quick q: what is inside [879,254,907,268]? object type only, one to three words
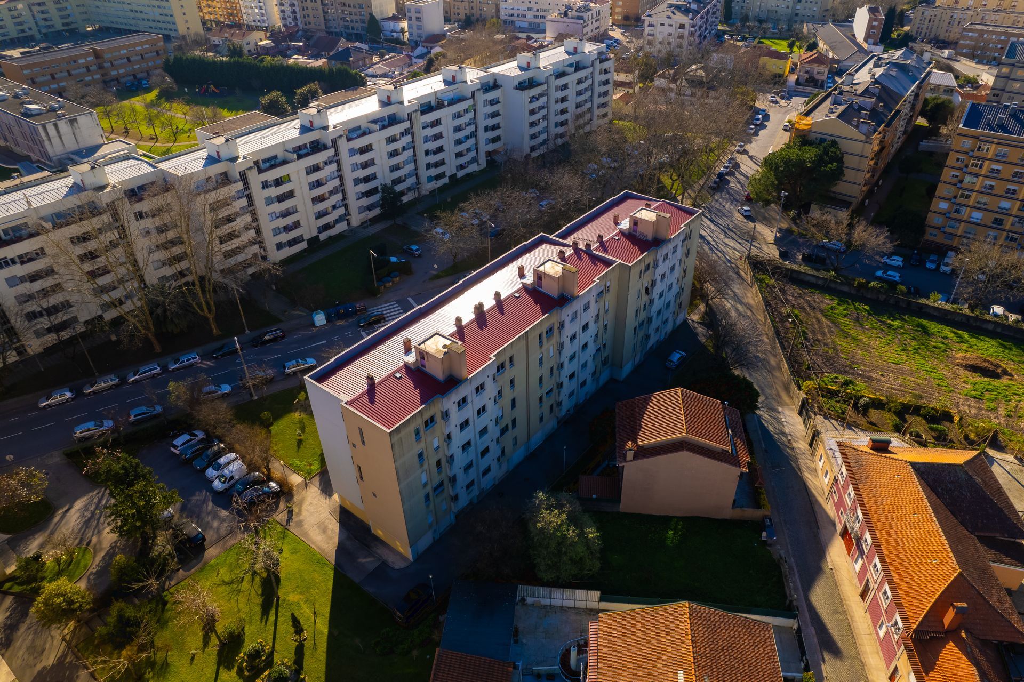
car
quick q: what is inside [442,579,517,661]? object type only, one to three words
shed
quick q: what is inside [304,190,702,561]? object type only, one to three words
building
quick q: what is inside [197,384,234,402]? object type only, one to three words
car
